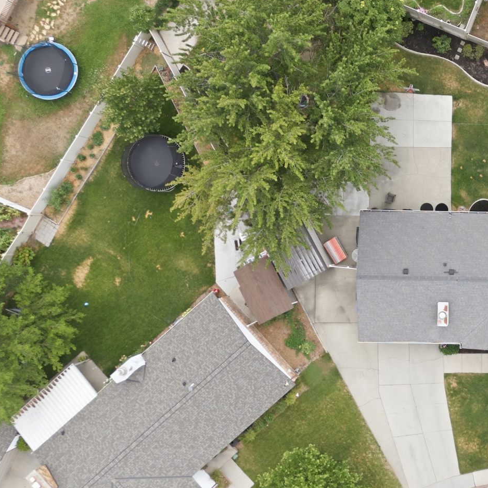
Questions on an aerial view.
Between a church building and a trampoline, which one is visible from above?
trampoline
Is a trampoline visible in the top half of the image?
Yes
